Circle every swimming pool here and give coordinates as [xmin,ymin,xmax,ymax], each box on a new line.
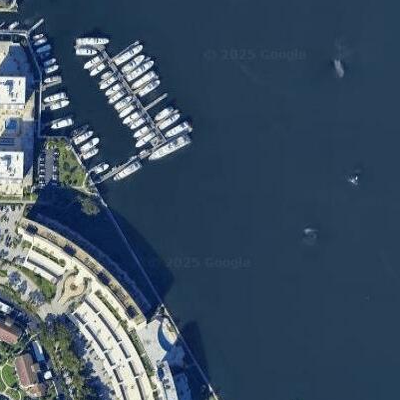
[162,318,177,343]
[4,120,17,130]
